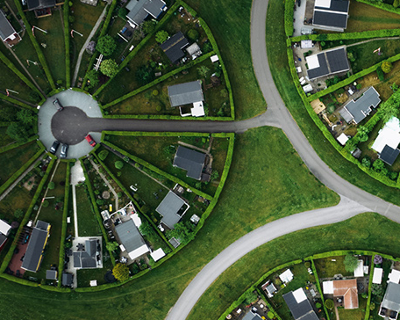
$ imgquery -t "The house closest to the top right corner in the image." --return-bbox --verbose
[313,0,350,28]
